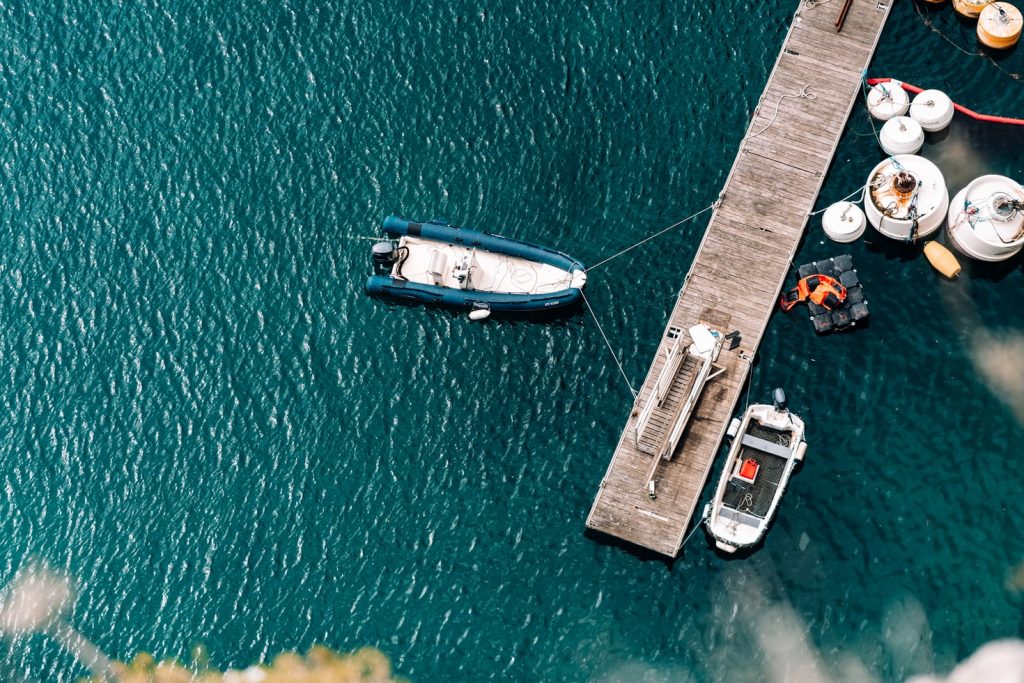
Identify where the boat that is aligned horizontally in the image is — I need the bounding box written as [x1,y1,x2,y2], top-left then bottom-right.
[367,214,585,310]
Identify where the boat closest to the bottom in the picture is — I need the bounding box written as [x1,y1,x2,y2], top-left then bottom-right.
[707,392,804,549]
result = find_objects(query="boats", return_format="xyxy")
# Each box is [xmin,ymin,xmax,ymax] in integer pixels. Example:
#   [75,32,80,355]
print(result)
[367,214,585,310]
[707,392,804,549]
